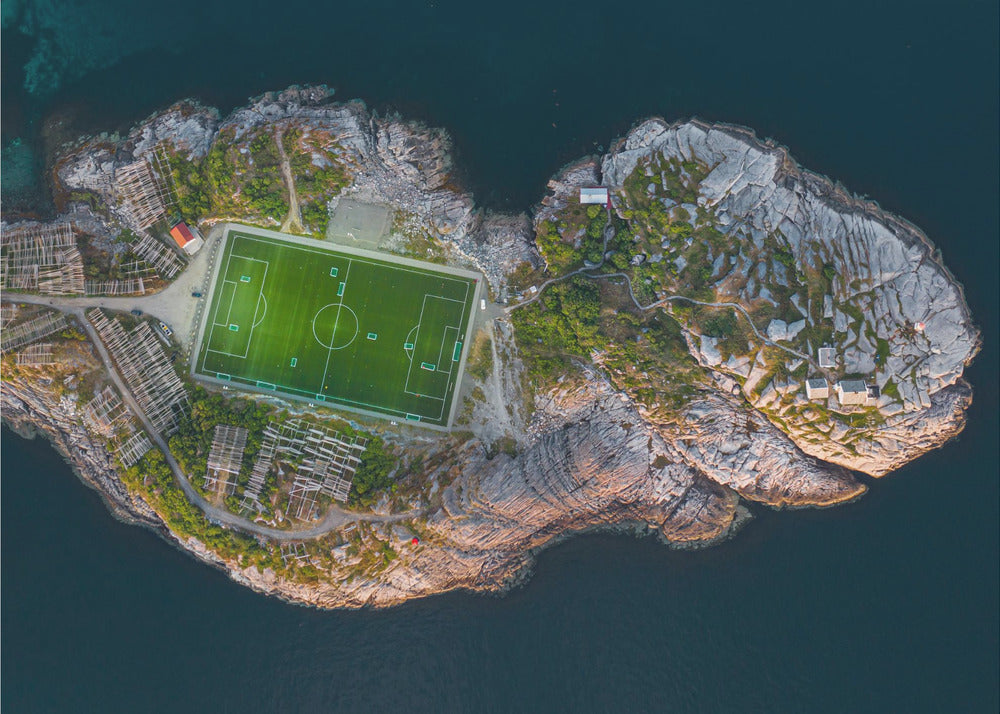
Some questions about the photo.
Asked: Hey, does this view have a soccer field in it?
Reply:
Yes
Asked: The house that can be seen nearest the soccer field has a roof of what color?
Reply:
red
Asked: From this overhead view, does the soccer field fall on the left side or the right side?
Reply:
left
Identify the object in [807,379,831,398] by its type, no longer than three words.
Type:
house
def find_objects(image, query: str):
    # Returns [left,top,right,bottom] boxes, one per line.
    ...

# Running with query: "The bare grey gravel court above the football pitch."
[332,198,388,243]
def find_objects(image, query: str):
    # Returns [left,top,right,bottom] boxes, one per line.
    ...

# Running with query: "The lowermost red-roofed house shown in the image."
[171,223,197,249]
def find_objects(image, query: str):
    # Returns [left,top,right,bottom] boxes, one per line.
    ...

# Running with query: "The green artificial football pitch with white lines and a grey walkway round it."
[190,224,482,432]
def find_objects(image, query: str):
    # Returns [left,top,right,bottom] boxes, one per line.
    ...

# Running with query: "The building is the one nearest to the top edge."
[580,189,607,204]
